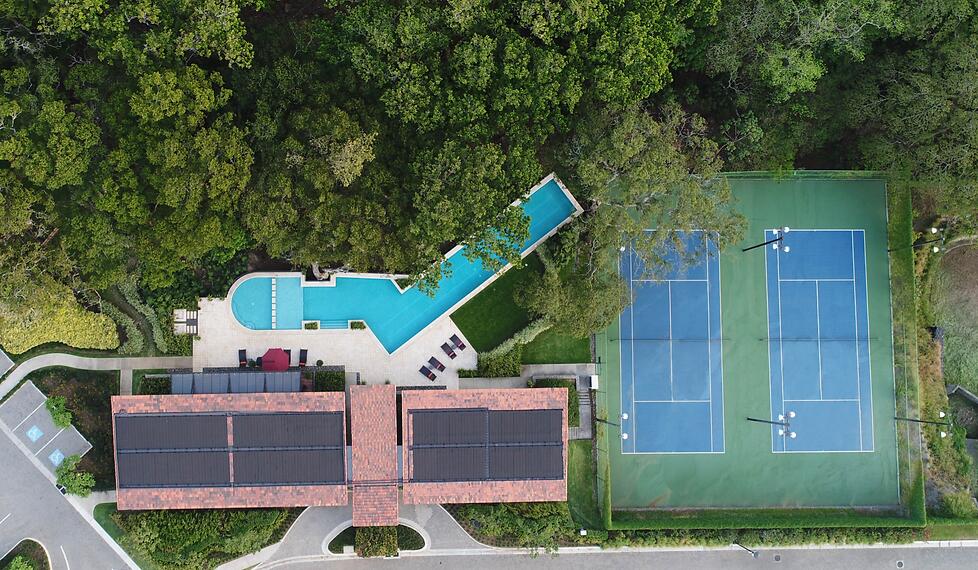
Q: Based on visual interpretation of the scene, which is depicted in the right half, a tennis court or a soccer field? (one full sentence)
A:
Visible in the right half is a tennis court.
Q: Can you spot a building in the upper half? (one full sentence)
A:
No, there is no building in the upper half.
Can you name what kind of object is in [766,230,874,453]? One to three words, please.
tennis court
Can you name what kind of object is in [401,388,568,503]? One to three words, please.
building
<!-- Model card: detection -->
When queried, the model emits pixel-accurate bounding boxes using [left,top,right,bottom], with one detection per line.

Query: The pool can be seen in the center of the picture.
[226,173,583,360]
